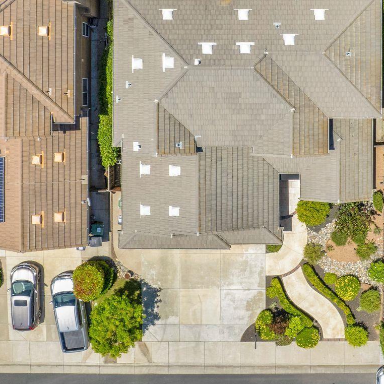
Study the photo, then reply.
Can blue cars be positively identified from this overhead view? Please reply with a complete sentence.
No, the scene contains no blue car.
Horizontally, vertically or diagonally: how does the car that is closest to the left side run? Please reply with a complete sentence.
Seen from above, the car that is closest to the left side lies vertically.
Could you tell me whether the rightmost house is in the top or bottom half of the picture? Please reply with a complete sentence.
The rightmost house is in the top half of the image.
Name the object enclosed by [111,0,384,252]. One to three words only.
house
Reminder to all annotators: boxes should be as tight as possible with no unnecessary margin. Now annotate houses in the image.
[111,0,384,252]
[0,0,108,253]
